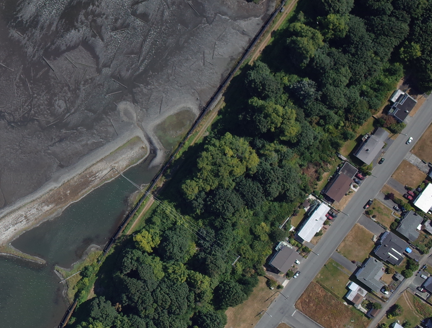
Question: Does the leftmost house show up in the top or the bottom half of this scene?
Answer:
bottom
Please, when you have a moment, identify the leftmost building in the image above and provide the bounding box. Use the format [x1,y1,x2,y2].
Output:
[269,242,299,273]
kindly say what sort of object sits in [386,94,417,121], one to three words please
house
